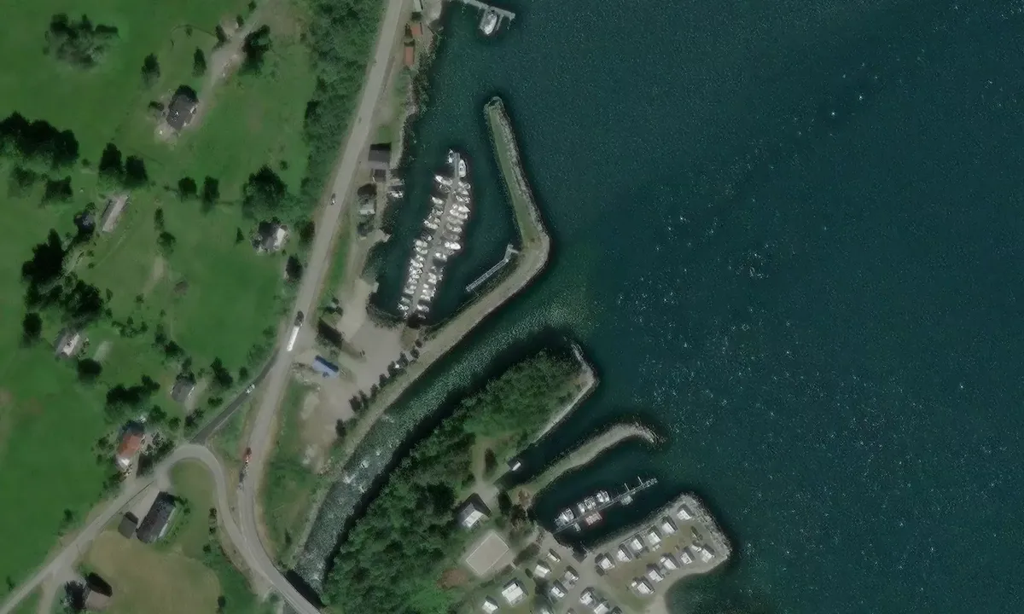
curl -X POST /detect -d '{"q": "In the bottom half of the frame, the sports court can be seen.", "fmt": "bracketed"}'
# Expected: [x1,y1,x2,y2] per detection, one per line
[466,532,509,575]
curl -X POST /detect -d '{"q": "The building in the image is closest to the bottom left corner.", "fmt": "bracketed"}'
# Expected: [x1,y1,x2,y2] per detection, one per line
[84,581,114,609]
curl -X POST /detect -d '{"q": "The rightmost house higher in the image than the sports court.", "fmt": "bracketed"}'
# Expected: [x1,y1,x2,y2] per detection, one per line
[459,502,485,529]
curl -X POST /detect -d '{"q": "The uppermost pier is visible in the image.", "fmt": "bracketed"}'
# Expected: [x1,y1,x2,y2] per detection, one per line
[465,0,515,29]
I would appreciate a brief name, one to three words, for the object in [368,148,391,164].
building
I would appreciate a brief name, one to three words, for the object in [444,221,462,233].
boat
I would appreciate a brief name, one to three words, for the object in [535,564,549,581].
camper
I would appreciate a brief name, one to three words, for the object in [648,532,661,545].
vehicle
